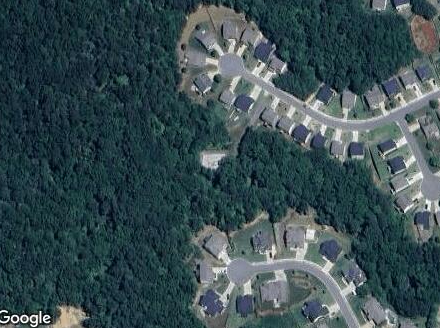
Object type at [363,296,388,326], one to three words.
house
